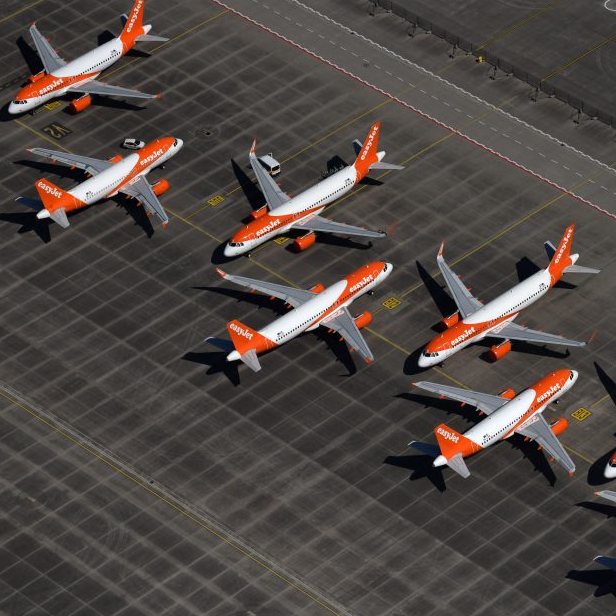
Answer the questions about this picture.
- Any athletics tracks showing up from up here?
No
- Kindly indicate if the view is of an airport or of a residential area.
airport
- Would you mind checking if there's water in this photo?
No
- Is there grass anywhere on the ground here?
No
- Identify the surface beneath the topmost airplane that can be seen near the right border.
apron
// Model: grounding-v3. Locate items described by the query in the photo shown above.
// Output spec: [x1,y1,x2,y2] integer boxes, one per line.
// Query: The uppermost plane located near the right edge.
[416,223,602,366]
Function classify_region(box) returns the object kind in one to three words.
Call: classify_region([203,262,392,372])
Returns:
airplane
